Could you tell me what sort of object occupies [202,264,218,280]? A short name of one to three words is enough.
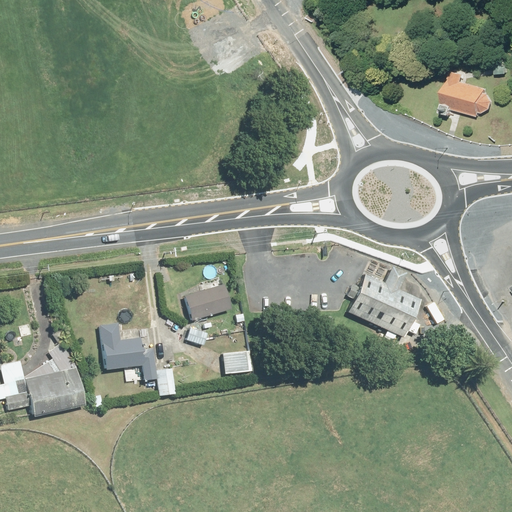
swimming pool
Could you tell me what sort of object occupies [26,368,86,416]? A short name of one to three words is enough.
shed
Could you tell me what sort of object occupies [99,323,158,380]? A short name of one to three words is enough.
house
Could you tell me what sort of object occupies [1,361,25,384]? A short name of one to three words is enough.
house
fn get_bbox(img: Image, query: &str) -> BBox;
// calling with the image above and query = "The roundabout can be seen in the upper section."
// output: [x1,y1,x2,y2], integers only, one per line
[352,160,442,230]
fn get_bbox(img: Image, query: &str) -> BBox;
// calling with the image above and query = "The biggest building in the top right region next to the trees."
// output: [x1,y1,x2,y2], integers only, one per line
[435,72,491,118]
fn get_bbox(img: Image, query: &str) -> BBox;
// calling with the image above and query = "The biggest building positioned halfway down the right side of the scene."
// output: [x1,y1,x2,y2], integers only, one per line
[346,268,422,336]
